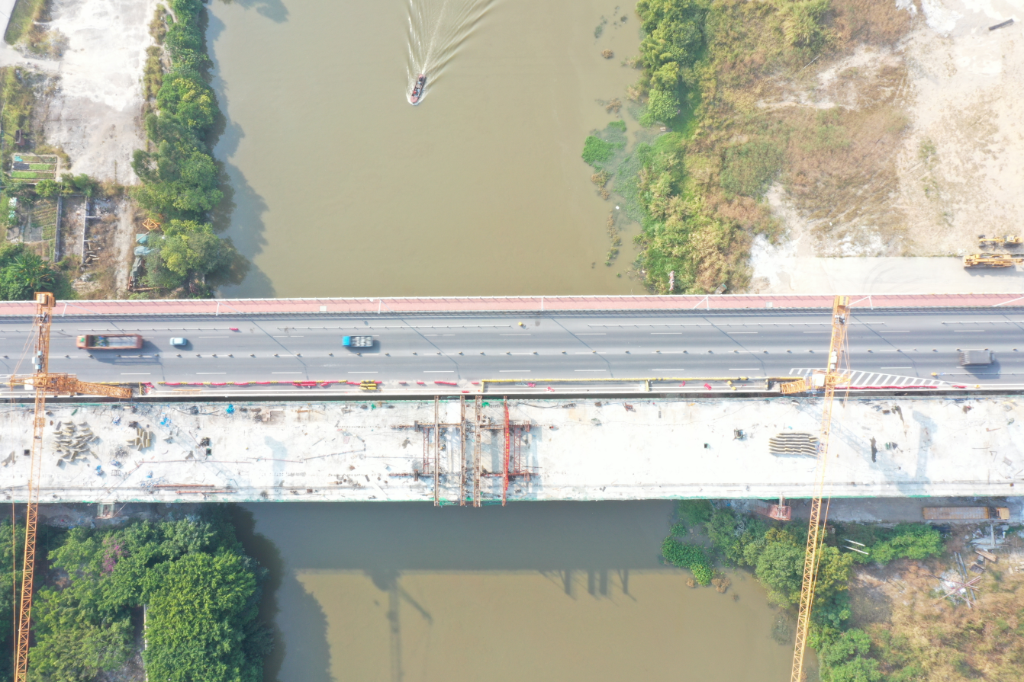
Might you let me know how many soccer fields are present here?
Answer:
0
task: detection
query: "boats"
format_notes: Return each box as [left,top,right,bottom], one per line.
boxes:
[412,73,424,102]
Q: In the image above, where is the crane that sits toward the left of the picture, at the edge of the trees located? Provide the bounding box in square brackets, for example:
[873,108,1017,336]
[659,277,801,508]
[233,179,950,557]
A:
[5,291,172,682]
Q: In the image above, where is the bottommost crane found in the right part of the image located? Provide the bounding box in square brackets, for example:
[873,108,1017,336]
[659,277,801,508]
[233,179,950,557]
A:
[749,294,854,682]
